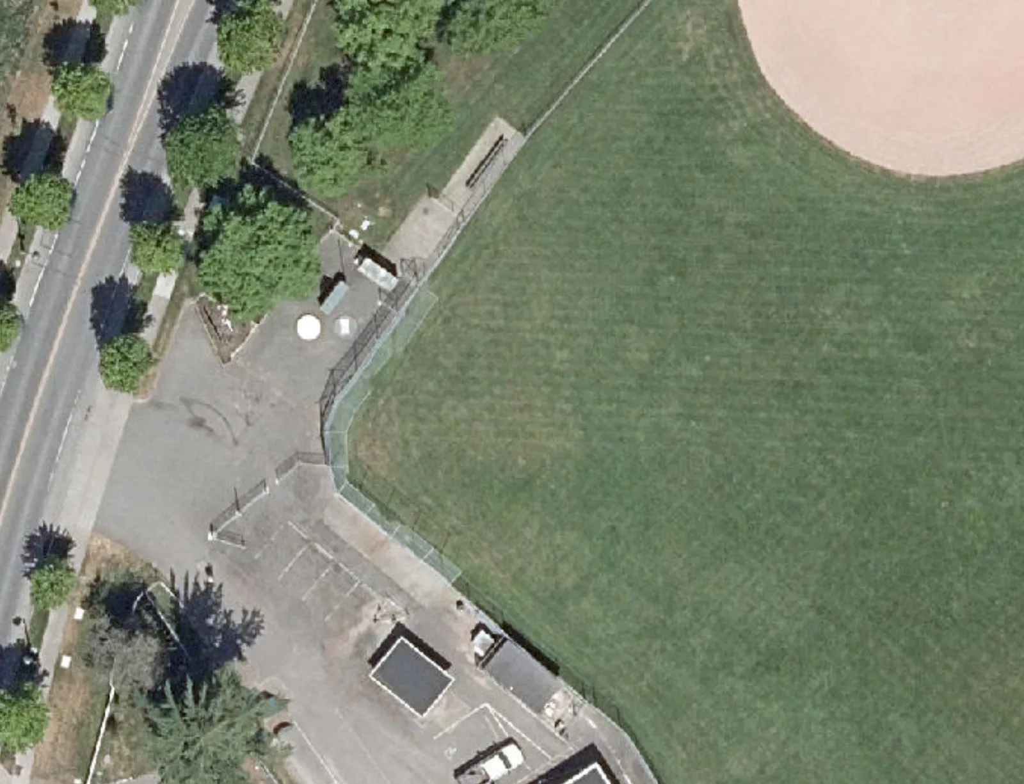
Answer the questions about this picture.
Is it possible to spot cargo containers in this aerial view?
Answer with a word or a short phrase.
Yes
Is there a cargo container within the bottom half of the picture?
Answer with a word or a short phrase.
No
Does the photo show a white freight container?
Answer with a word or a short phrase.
Yes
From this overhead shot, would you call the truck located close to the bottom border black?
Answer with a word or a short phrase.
No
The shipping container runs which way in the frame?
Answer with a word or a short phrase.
on a diagonal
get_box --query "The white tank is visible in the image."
[296,315,321,339]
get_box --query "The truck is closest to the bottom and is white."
[455,745,526,784]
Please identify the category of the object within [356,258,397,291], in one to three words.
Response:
shipping container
